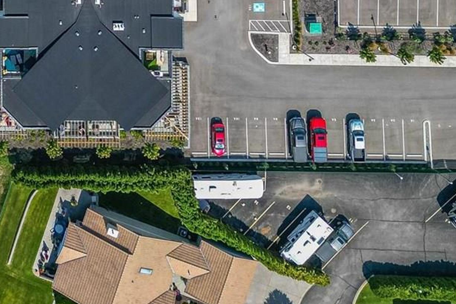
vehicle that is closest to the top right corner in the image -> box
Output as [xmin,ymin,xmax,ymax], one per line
[348,119,369,162]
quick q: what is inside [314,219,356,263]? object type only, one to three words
truck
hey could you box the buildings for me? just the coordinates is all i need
[52,200,257,304]
[0,0,189,149]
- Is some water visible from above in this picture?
No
